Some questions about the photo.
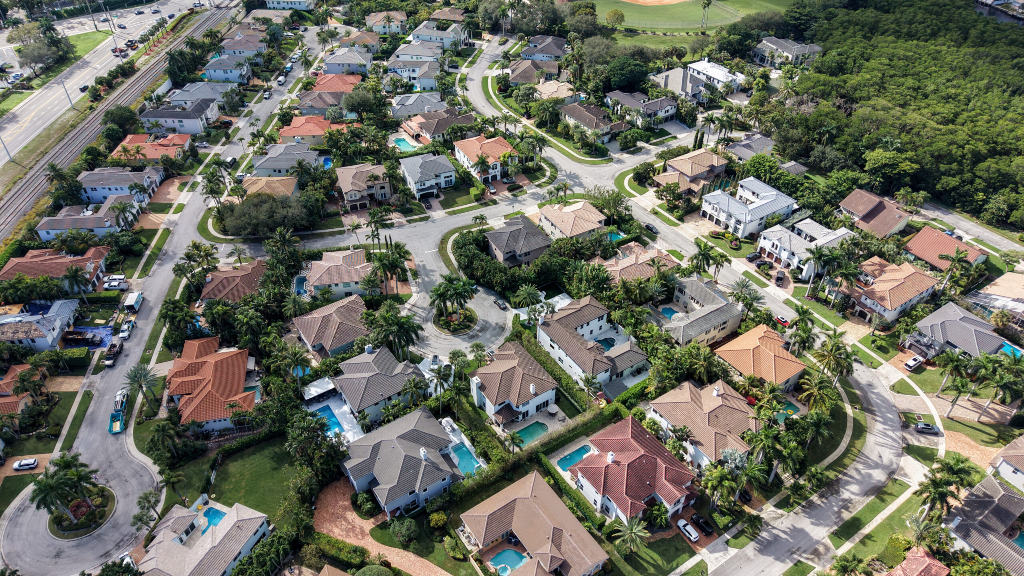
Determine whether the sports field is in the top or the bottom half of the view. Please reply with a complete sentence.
Seen from above, the sports field lies in the top half of the view.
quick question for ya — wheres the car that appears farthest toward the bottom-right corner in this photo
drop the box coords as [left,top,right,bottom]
[914,421,940,435]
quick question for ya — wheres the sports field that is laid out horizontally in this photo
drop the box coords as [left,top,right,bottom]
[565,0,784,67]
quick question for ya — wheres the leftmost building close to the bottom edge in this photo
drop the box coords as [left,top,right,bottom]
[136,501,268,576]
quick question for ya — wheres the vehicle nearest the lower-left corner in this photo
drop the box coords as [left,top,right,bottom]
[12,456,39,471]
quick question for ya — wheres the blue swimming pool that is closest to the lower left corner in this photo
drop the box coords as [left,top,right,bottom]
[199,504,227,536]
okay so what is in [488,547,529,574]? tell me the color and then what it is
blue swimming pool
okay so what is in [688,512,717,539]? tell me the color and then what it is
black truck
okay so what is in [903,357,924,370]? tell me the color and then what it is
white vehicle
